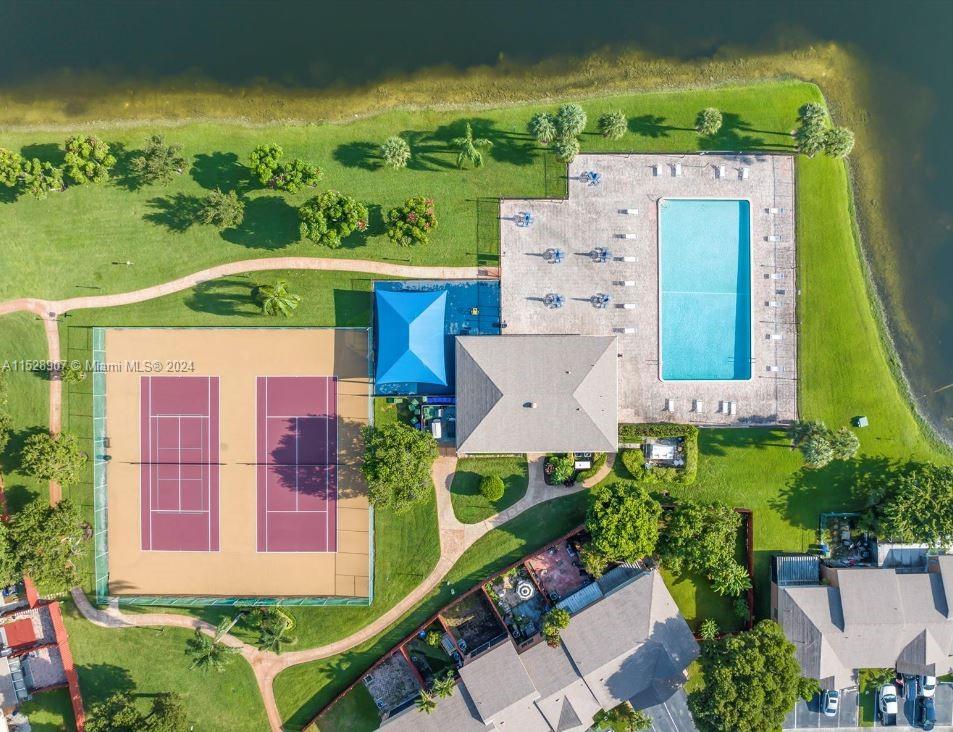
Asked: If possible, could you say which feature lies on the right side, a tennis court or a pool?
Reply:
pool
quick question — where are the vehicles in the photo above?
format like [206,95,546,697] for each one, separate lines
[879,686,901,730]
[920,676,940,699]
[902,674,921,707]
[919,698,940,732]
[823,691,842,721]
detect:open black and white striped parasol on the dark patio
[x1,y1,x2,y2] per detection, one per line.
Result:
[517,582,533,599]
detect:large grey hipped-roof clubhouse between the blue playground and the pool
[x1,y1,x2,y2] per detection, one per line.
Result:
[454,335,619,454]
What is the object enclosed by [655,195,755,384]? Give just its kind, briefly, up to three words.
swimming pool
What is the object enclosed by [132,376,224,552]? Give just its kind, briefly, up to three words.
tennis court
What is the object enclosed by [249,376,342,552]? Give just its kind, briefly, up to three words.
tennis court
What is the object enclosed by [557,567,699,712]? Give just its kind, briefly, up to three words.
house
